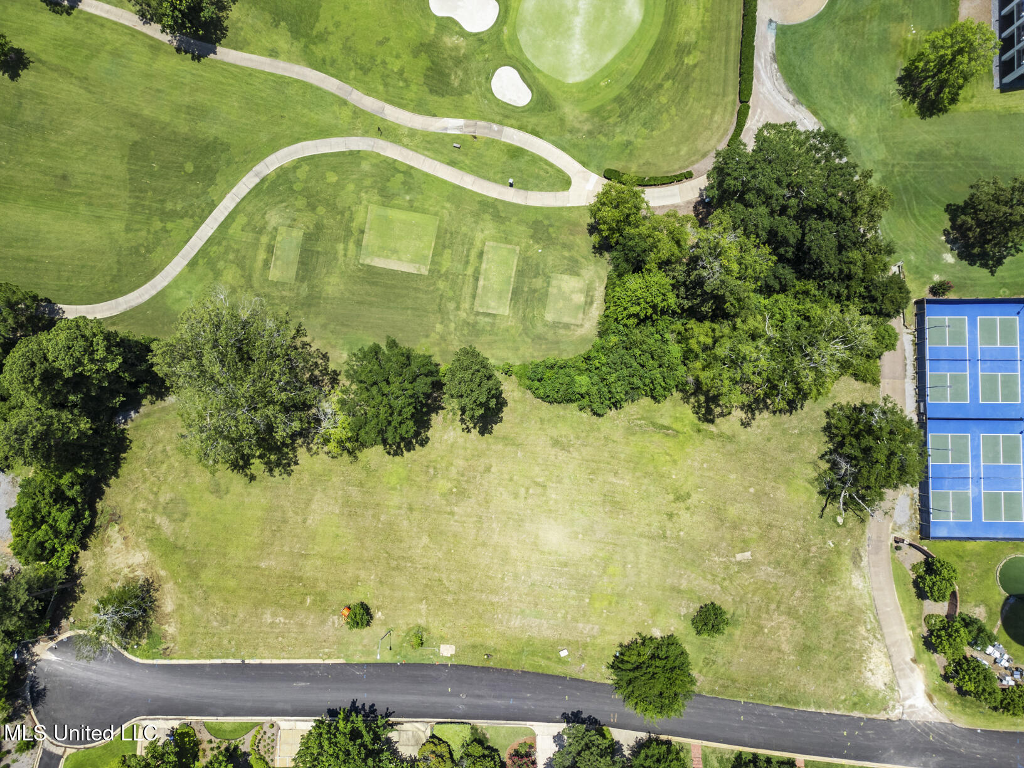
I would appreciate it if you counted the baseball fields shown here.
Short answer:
0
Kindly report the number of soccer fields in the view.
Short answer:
0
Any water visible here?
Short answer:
No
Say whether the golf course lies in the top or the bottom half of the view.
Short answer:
top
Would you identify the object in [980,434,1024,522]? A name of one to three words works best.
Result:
sports court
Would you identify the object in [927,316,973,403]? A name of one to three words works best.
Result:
sports court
